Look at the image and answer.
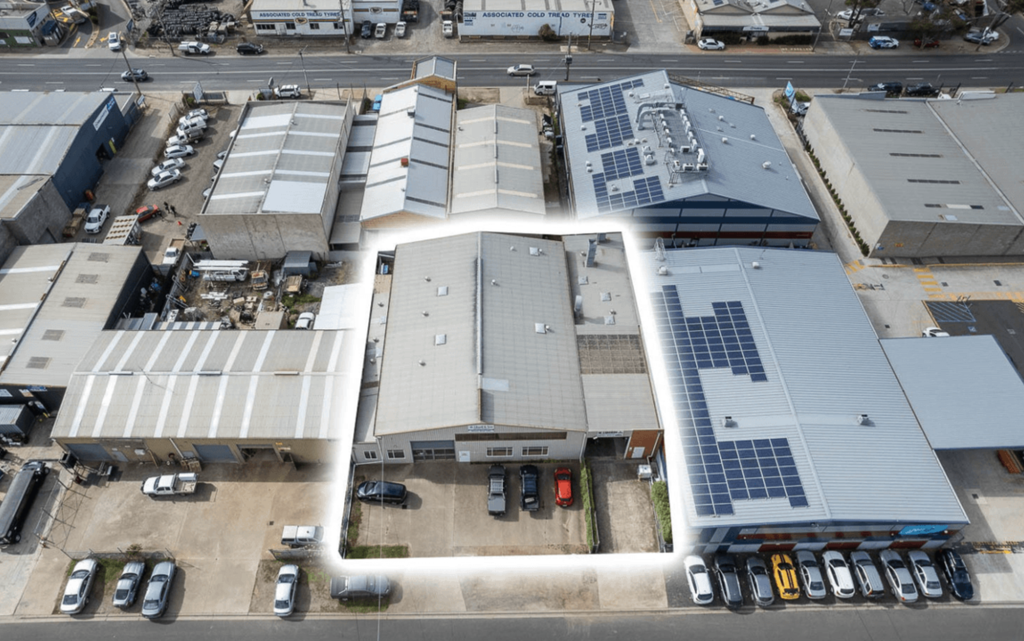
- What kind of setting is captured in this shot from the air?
industrial area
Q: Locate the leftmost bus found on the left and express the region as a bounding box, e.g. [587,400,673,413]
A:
[0,458,56,555]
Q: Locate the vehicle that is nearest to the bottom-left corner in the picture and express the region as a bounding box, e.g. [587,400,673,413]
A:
[59,560,100,615]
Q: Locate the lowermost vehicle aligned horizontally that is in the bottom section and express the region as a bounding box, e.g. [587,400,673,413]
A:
[330,573,392,602]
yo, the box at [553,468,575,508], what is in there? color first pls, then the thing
red car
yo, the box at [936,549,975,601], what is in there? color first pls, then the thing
black car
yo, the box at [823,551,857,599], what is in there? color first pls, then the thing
white car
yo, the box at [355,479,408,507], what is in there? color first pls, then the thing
black vehicle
